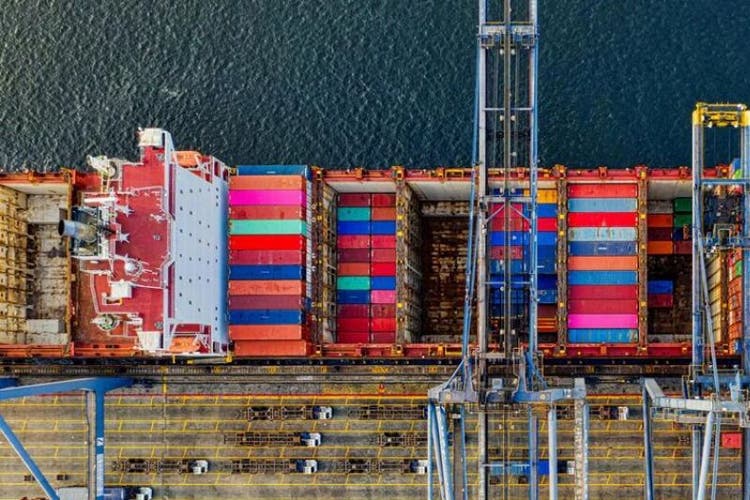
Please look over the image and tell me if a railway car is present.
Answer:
No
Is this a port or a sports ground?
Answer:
port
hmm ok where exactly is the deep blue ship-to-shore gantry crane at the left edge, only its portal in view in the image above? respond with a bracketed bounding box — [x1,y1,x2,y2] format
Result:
[0,377,149,500]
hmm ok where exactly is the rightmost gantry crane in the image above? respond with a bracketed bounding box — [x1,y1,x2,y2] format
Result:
[600,102,750,500]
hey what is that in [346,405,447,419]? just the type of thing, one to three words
vehicle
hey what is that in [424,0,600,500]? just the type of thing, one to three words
container crane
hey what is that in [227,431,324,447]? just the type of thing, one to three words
vehicle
